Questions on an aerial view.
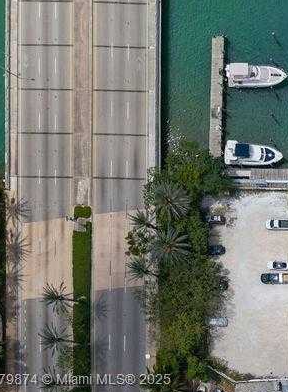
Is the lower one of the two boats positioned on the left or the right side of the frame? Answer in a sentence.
It is on the right.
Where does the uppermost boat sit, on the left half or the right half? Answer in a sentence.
It is on the right.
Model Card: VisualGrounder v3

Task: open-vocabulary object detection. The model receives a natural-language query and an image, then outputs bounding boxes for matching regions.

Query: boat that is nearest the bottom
[224,142,284,169]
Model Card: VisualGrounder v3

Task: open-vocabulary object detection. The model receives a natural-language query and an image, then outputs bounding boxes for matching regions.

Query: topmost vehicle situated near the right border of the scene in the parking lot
[268,219,288,231]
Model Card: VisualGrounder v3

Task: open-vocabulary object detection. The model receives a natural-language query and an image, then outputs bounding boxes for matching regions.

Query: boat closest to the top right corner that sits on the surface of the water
[226,61,288,89]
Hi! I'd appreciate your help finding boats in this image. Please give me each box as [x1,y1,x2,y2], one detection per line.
[226,61,288,89]
[224,142,284,169]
